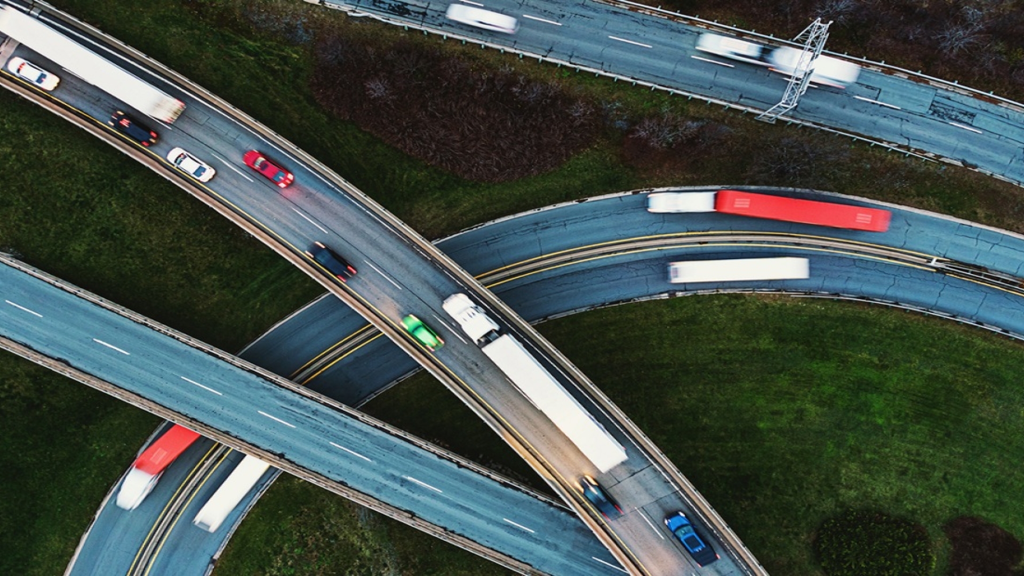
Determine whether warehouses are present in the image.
No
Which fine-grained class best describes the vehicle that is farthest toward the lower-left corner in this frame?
truck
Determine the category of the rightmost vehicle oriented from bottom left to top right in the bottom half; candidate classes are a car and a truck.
truck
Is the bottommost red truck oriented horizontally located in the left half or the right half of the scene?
right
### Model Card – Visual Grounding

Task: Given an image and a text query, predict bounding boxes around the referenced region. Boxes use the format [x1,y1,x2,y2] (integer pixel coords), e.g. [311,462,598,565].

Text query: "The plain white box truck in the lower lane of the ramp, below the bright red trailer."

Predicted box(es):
[668,255,811,283]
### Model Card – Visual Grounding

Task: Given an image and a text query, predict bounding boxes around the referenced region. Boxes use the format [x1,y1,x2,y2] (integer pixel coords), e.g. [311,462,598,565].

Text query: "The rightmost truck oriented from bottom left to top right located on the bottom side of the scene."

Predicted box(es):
[195,453,274,534]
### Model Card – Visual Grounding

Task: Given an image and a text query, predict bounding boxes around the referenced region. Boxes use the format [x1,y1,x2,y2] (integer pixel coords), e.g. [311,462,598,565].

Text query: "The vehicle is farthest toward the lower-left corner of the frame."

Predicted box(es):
[120,422,205,504]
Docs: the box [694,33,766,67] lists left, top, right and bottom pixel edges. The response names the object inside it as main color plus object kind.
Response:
white van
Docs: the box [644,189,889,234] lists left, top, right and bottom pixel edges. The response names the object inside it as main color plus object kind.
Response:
red truck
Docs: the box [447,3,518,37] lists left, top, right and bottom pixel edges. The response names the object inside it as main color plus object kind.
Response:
white van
